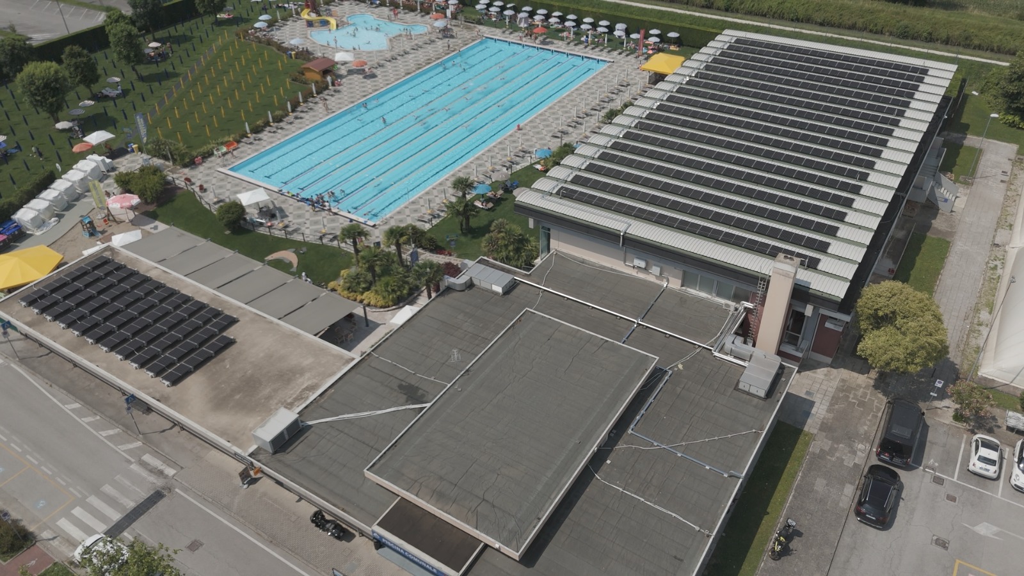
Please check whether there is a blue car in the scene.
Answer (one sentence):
No, I can see no blue car in this picture.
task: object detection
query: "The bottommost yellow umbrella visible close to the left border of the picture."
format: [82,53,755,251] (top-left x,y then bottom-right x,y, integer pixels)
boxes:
[0,242,58,289]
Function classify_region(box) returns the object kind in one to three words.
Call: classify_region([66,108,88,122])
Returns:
umbrella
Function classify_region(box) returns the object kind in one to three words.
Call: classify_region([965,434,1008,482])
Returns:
car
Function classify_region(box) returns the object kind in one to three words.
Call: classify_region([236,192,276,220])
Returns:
gazebo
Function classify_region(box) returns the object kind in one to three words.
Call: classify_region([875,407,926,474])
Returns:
van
